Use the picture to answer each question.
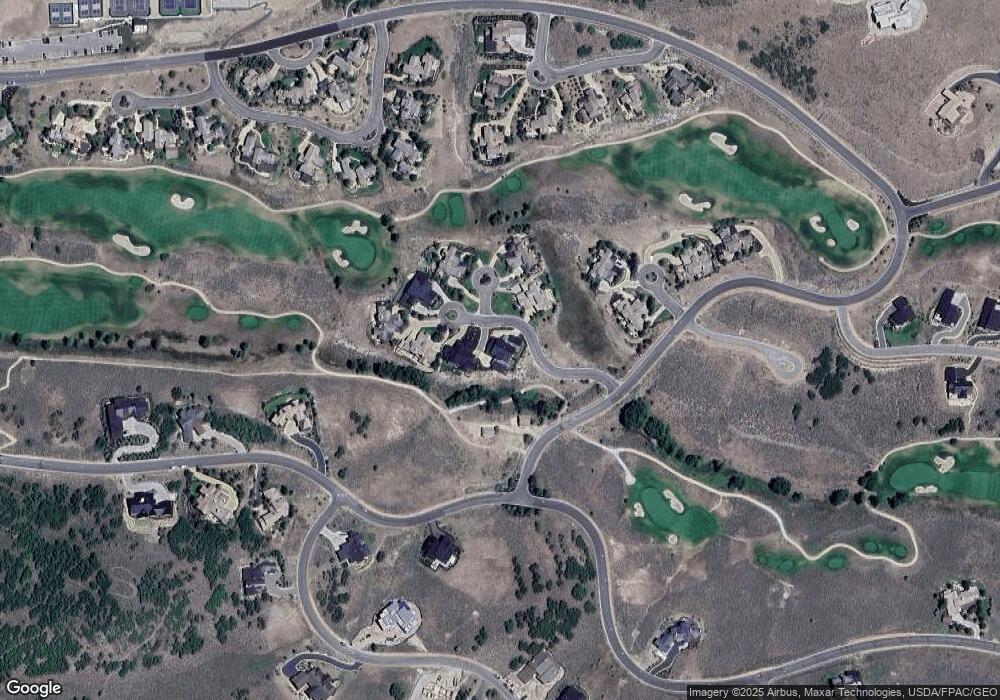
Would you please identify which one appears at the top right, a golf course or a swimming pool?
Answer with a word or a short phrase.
golf course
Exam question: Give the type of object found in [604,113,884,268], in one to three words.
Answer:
golf course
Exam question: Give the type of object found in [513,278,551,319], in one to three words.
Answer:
house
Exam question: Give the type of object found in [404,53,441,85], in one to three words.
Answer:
house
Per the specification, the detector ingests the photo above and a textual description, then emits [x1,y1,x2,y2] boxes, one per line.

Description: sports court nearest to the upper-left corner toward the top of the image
[49,3,73,23]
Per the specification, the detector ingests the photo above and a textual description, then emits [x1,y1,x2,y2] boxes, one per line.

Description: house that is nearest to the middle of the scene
[485,334,523,372]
